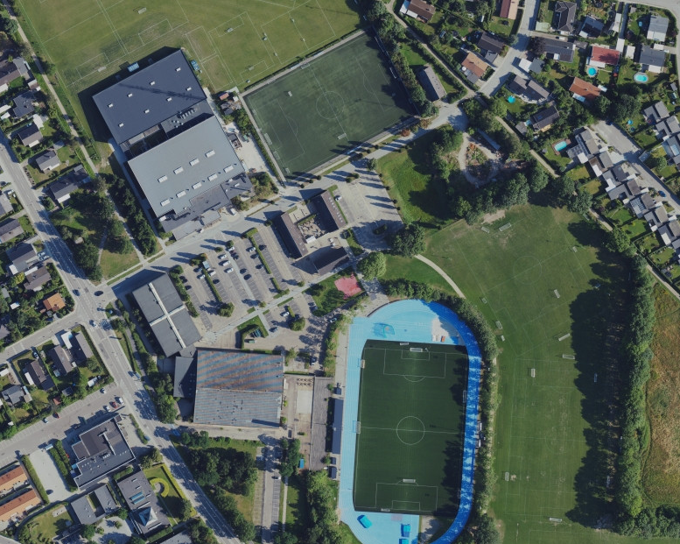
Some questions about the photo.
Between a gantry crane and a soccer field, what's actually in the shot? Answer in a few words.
soccer field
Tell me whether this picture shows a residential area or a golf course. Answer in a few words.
residential area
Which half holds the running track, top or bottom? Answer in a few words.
bottom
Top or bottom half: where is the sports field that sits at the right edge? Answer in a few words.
bottom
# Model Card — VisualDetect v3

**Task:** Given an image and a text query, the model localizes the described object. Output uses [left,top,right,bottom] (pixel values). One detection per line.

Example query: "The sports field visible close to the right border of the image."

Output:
[430,201,680,544]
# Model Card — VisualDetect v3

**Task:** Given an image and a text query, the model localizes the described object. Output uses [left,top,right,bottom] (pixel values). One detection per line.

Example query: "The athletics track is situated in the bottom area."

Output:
[338,299,481,544]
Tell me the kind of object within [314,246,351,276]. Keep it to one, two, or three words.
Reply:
building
